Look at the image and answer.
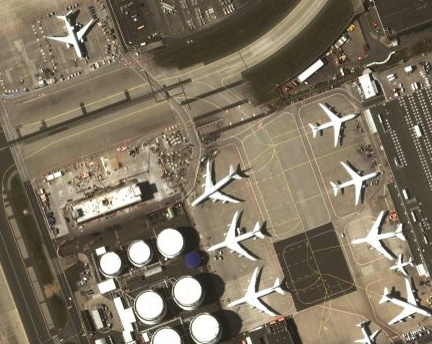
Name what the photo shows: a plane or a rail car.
plane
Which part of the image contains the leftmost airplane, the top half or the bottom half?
top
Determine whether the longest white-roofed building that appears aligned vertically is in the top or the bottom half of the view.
bottom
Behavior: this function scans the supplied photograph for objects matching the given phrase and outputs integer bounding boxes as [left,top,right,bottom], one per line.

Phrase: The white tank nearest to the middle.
[155,228,185,259]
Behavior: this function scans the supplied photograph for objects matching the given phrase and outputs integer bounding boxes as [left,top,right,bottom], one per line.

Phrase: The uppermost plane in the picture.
[44,10,94,58]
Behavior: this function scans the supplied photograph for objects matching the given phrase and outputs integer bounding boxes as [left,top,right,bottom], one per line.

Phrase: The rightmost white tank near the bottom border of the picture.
[189,314,221,344]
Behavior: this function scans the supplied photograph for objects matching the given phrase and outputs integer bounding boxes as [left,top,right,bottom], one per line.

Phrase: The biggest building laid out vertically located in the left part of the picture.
[114,296,136,343]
